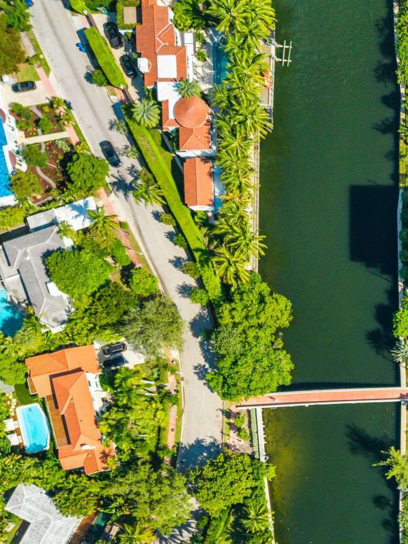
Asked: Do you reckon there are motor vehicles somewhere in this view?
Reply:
Yes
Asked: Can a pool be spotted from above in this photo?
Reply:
Yes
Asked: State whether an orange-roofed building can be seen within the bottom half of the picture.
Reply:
Yes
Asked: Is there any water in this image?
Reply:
Yes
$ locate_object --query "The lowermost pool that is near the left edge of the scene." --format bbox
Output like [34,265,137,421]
[14,400,52,453]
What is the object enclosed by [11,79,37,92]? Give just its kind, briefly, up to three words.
vehicle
